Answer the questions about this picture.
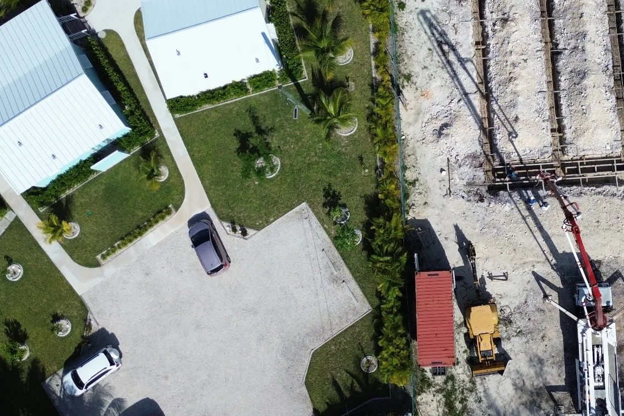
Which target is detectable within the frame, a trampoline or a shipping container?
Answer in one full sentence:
The one in the frame is a shipping container.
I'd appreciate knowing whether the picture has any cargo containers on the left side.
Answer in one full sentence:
No, looking on the left side, there is no cargo container.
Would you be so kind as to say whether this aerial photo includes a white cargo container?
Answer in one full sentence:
No, the picture doesn't show any white cargo container.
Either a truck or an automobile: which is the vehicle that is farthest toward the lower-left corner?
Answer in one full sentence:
The vehicle that is farthest toward the lower-left corner is an automobile.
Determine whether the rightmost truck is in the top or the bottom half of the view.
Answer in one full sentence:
The bottom half of the photo is where the rightmost truck is.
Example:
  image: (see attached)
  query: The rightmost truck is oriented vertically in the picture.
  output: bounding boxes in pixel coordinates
[531,172,624,416]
